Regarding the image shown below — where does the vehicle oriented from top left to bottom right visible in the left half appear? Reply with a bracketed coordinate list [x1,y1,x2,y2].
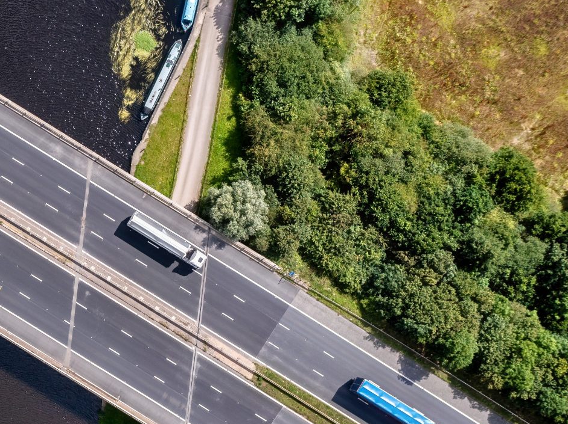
[129,211,208,270]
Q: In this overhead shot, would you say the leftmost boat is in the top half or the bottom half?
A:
top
